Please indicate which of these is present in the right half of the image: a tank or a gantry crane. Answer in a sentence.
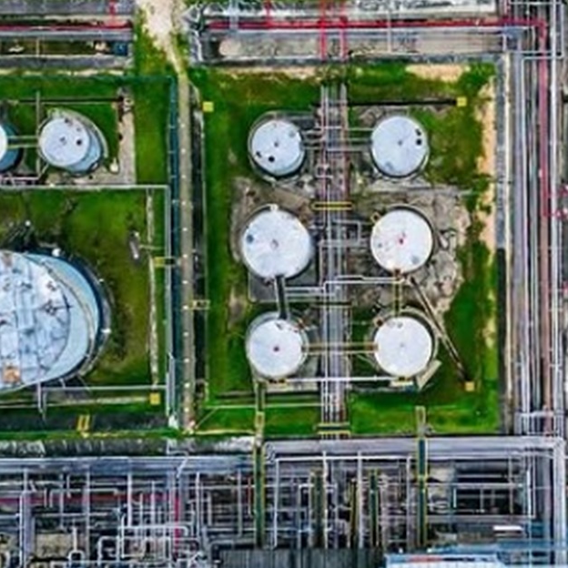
There is a tank in the right half of the image.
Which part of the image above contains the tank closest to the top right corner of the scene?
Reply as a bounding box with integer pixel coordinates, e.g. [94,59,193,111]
[362,115,429,186]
